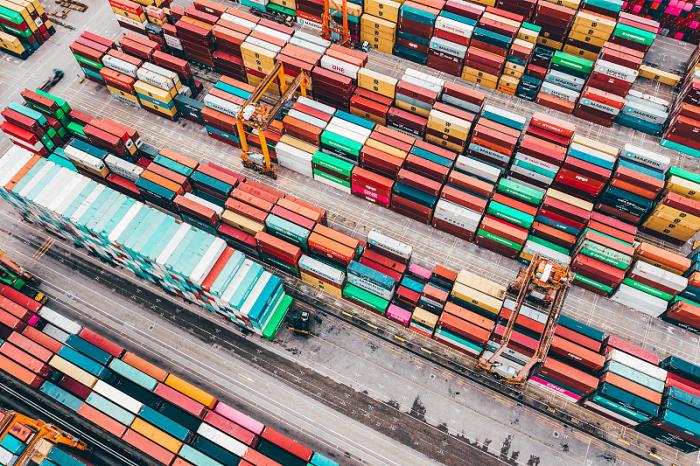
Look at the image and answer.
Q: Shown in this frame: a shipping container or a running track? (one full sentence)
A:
The image shows a shipping container.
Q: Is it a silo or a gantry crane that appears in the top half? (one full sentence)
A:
The feature located in the top half is a gantry crane.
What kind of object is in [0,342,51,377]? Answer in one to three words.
shipping container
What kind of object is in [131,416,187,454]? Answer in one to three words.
shipping container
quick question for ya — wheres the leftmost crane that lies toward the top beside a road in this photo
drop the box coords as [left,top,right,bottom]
[231,59,310,178]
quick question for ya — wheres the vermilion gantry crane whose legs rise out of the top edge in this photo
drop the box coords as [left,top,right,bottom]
[319,0,355,46]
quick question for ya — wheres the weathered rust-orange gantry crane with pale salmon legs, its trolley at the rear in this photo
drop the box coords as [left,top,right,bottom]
[470,247,577,392]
